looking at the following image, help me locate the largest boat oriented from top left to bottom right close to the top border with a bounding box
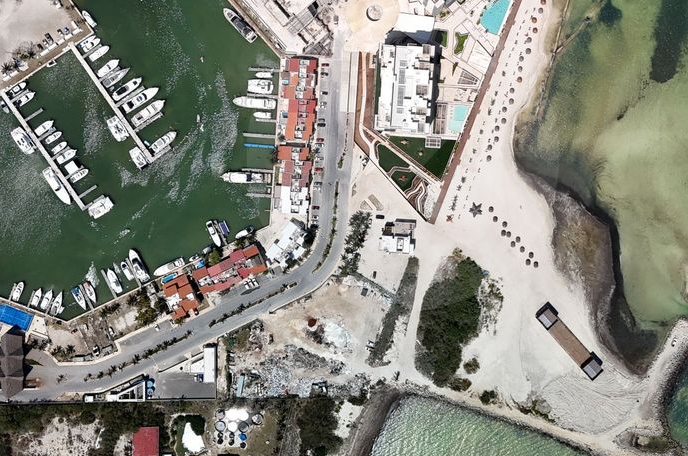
[223,8,258,45]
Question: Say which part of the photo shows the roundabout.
top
